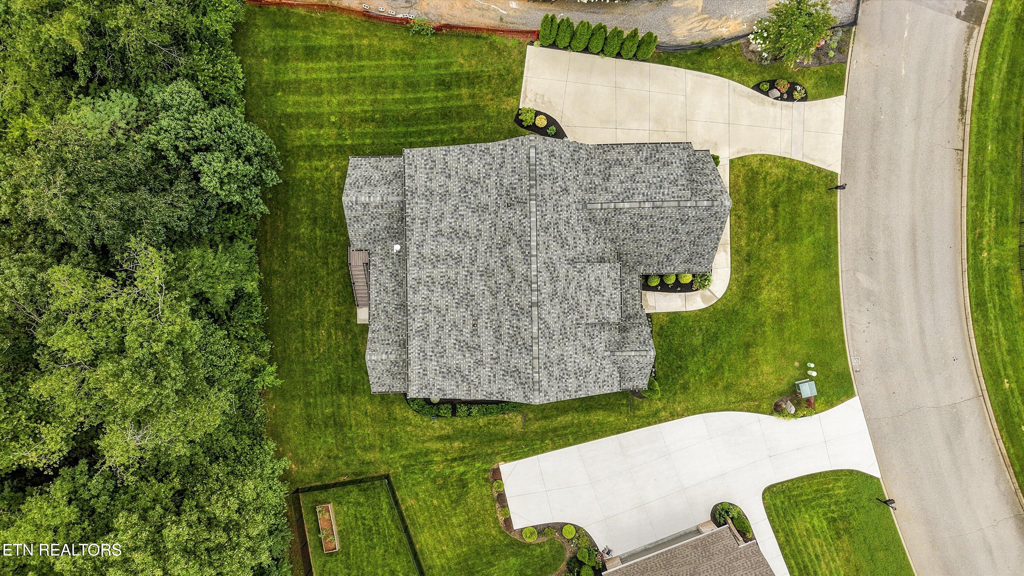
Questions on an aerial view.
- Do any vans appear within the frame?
No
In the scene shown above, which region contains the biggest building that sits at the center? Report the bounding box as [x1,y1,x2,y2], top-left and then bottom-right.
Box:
[342,133,731,405]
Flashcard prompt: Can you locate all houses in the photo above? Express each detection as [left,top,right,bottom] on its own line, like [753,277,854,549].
[600,510,775,576]
[342,133,731,405]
